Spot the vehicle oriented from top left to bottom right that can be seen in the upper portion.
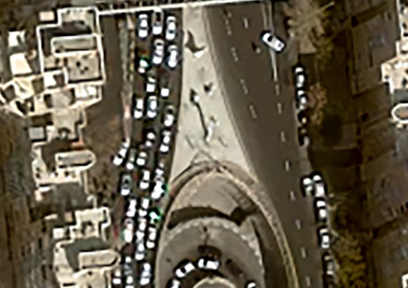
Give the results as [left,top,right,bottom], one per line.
[262,33,285,51]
